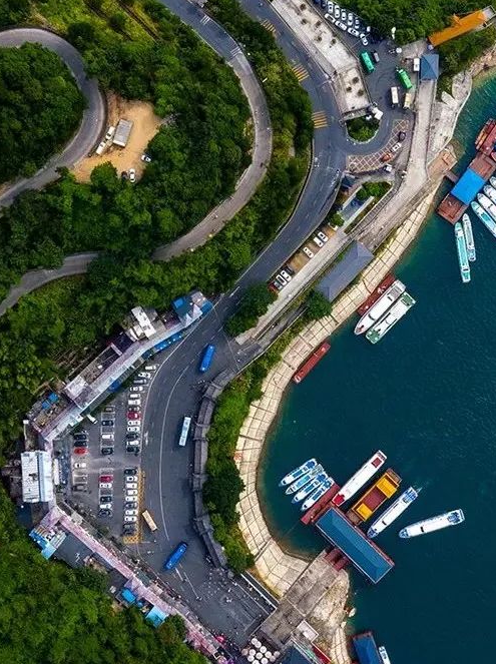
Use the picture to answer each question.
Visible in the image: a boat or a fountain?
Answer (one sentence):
Of the two, only a boat appears.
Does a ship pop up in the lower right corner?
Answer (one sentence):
Yes, the scene does show a ship in the lower right corner.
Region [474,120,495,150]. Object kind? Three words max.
boat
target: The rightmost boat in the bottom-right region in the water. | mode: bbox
[398,509,466,536]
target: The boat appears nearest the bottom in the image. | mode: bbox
[378,644,390,664]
